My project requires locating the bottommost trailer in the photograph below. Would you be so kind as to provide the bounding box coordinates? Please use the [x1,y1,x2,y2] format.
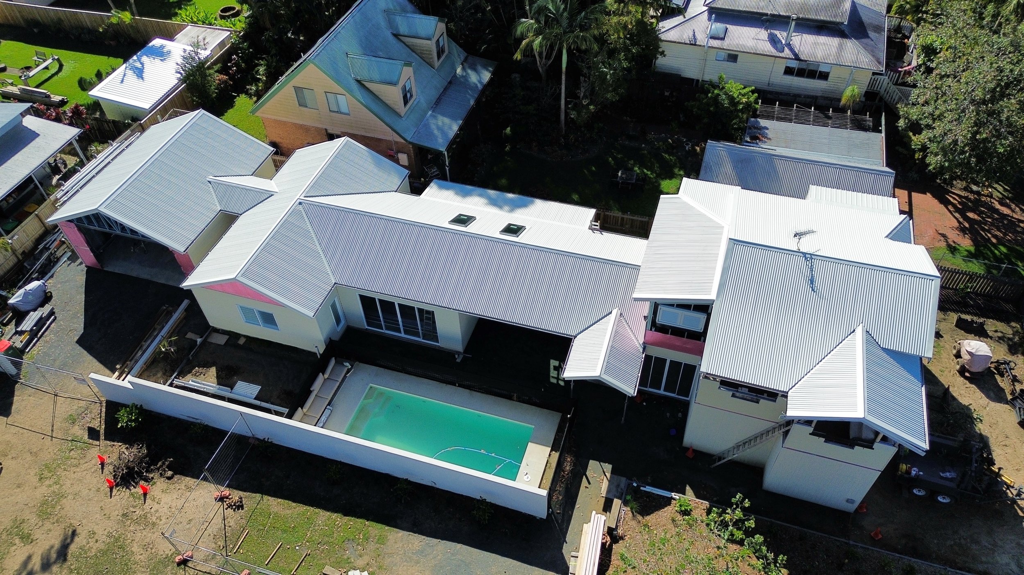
[888,438,1024,508]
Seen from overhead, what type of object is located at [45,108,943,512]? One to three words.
house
